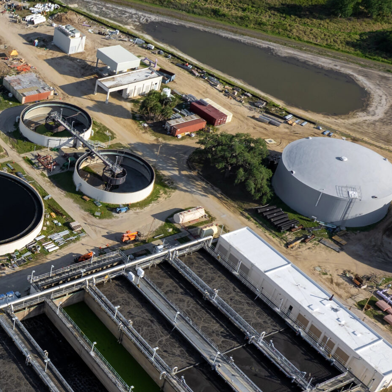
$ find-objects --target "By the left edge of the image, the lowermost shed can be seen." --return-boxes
[2,72,54,104]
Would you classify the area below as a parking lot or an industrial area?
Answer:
industrial area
